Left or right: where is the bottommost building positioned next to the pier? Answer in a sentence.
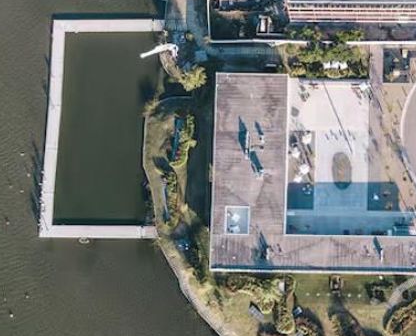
The bottommost building positioned next to the pier is on the right side of the image.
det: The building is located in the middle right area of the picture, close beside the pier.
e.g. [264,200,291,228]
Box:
[211,71,416,271]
